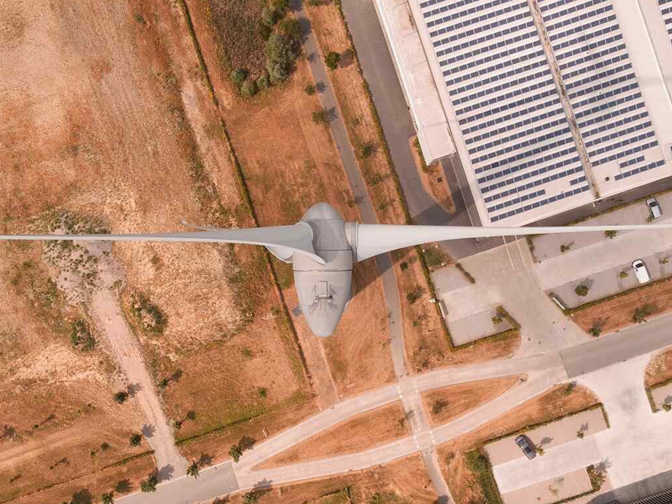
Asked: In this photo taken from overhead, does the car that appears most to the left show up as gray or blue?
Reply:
gray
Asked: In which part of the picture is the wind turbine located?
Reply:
center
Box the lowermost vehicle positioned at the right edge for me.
[633,258,651,285]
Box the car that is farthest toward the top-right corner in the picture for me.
[645,196,663,221]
